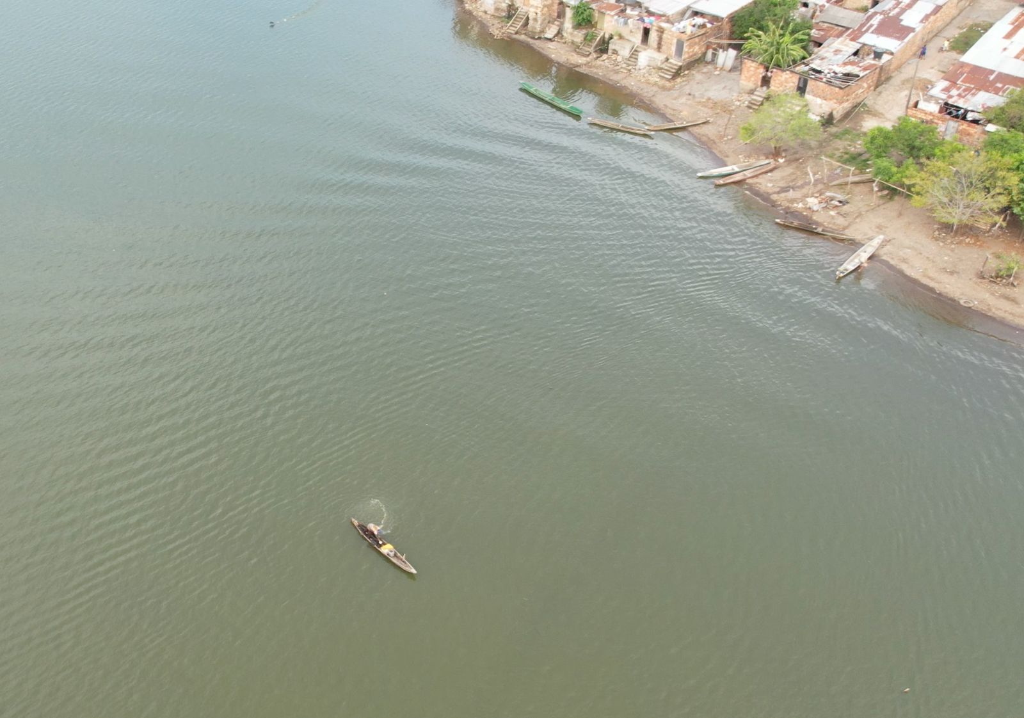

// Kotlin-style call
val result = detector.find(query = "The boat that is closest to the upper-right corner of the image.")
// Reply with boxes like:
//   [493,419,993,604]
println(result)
[828,172,881,189]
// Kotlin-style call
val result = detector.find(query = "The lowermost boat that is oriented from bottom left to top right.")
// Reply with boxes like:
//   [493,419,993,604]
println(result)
[836,235,884,280]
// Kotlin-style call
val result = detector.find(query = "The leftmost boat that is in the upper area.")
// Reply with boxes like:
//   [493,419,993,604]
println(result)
[519,81,582,117]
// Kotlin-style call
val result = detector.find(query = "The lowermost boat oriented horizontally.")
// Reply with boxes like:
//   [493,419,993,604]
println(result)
[775,220,856,242]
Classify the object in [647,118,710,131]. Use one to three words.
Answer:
boat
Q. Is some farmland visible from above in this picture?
No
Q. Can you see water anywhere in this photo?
Yes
